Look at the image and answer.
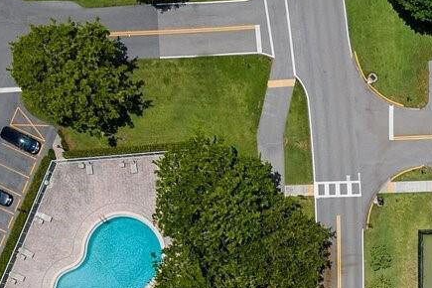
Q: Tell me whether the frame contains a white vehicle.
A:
No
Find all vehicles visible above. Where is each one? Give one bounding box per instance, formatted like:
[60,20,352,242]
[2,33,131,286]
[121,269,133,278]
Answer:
[0,189,15,206]
[1,127,42,154]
